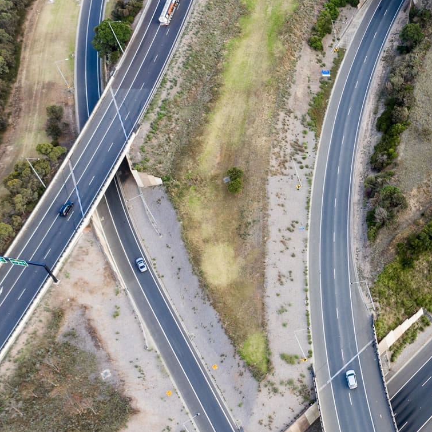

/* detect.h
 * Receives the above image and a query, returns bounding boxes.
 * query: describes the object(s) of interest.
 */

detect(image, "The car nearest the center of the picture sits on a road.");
[135,255,149,273]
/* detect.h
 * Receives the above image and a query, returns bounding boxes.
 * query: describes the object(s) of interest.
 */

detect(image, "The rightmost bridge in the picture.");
[306,304,400,432]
